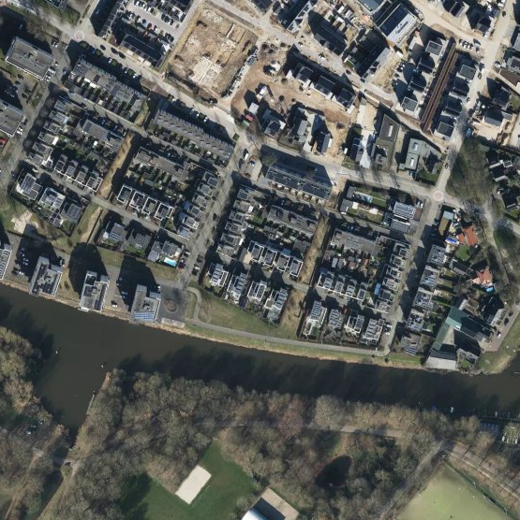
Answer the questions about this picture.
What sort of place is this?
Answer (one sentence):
This looks like a residential area.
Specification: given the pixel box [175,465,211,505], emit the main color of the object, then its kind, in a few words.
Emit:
white sports court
